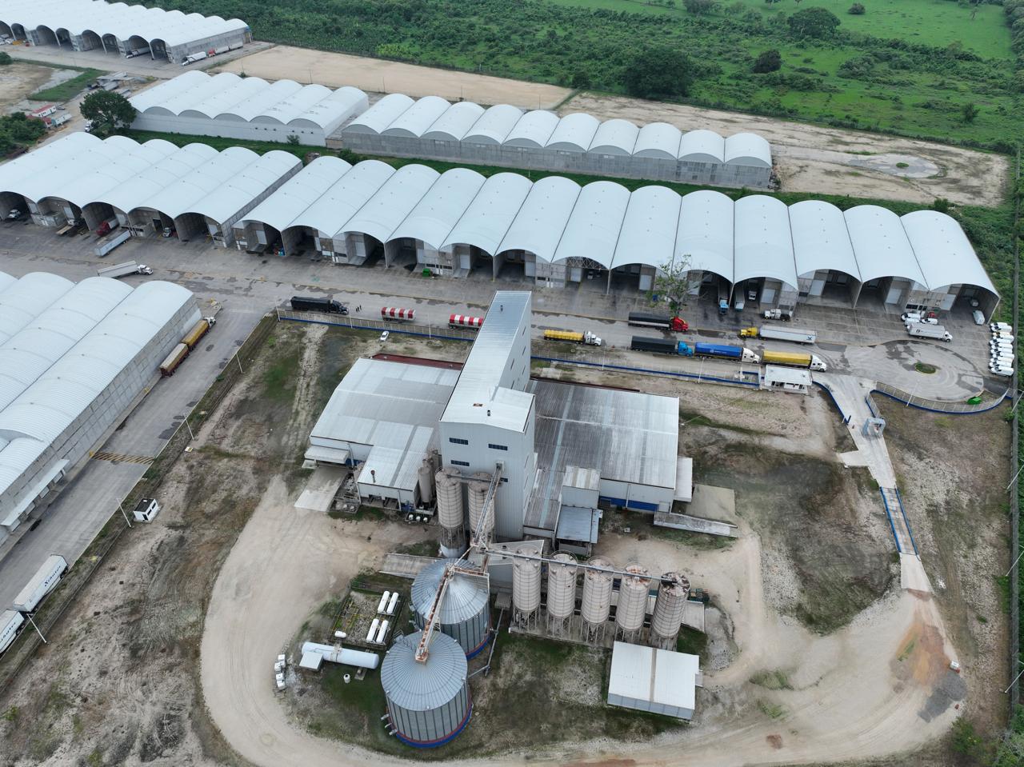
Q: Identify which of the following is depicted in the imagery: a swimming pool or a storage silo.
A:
storage silo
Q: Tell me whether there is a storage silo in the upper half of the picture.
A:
No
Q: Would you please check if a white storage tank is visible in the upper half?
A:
No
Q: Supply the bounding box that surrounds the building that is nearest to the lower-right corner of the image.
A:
[607,640,702,722]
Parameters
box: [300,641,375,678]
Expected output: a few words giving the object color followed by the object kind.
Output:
white storage tank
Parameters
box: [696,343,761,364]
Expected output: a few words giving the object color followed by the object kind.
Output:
blue truck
